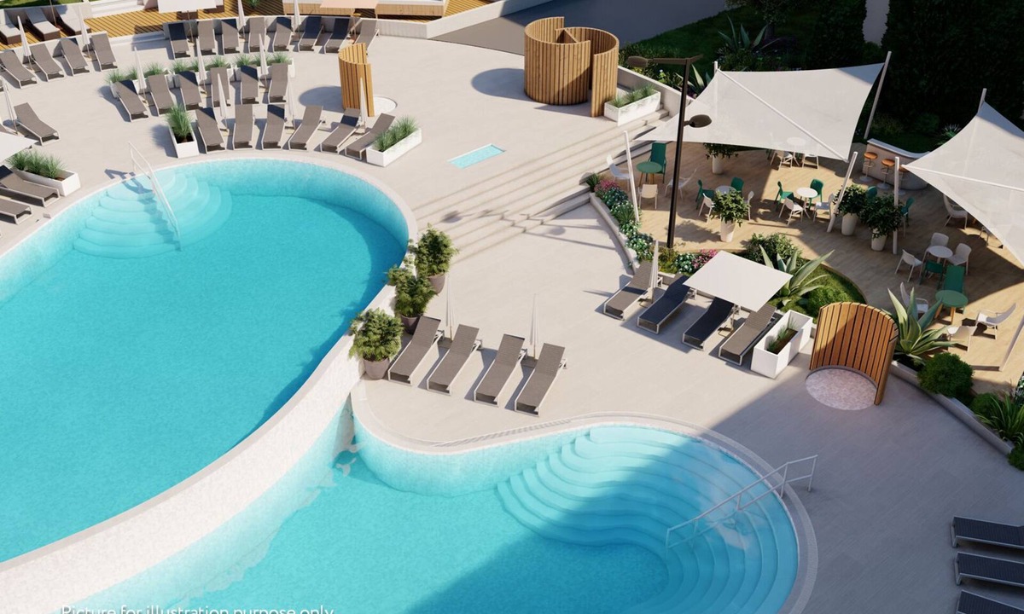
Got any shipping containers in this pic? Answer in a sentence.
No, no shipping container is visible in the view.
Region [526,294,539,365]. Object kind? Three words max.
umbrella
